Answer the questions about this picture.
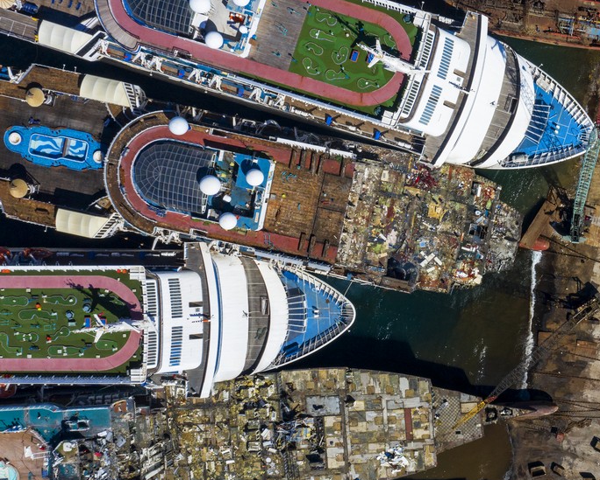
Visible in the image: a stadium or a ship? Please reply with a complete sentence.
Visible in the photo is a ship.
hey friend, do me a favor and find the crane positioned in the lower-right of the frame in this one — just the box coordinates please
[450,285,600,431]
